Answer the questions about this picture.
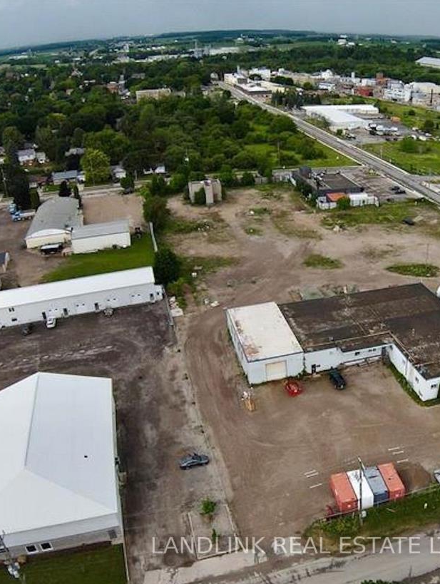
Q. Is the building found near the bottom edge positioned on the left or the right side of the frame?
left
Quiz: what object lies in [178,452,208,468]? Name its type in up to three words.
car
